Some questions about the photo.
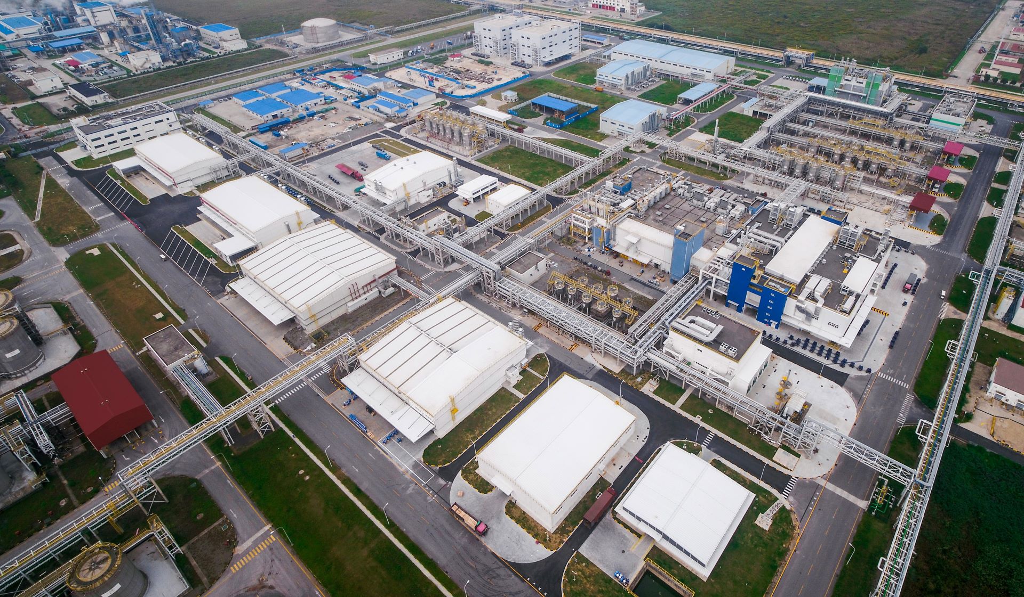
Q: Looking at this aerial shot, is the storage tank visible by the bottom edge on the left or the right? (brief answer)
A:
left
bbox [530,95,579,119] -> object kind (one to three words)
shed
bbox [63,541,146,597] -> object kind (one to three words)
storage tank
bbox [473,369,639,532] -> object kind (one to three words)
building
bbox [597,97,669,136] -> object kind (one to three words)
building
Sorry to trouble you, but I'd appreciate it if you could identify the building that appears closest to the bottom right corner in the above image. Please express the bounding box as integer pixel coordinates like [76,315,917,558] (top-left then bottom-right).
[987,356,1024,409]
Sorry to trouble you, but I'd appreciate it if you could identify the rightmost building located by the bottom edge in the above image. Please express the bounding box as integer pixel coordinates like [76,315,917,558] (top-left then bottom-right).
[612,438,755,576]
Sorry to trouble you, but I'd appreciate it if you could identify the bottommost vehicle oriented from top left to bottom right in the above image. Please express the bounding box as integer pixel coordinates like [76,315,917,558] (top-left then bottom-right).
[447,497,489,532]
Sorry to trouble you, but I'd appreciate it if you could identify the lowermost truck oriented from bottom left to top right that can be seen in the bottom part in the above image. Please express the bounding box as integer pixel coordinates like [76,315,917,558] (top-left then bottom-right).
[582,482,620,531]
